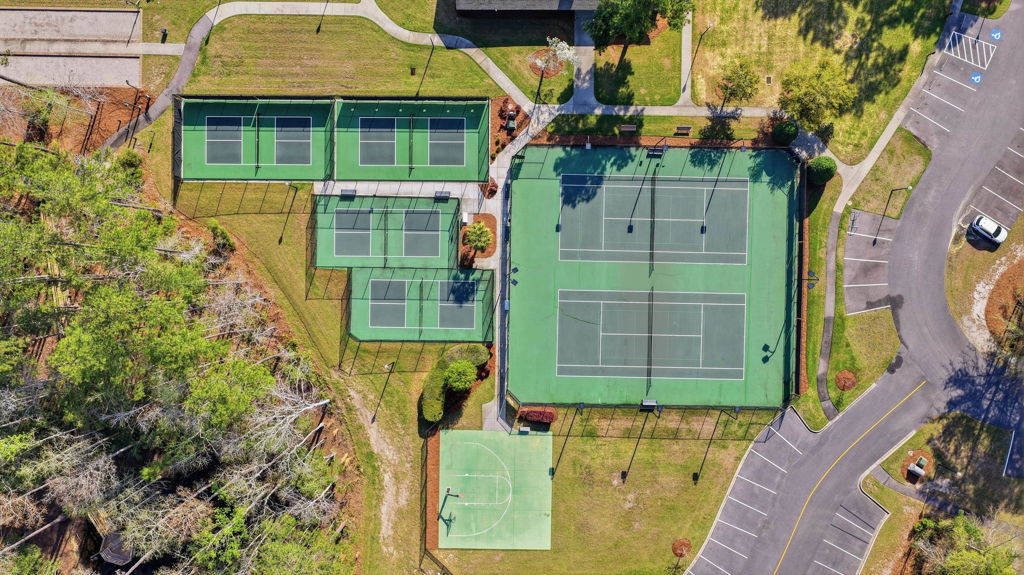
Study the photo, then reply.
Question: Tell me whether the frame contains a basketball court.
Yes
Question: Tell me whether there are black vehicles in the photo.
No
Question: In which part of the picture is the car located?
right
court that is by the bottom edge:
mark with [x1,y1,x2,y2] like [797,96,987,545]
[439,430,552,550]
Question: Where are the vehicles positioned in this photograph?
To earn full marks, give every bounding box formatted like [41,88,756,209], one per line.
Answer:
[972,214,1011,243]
